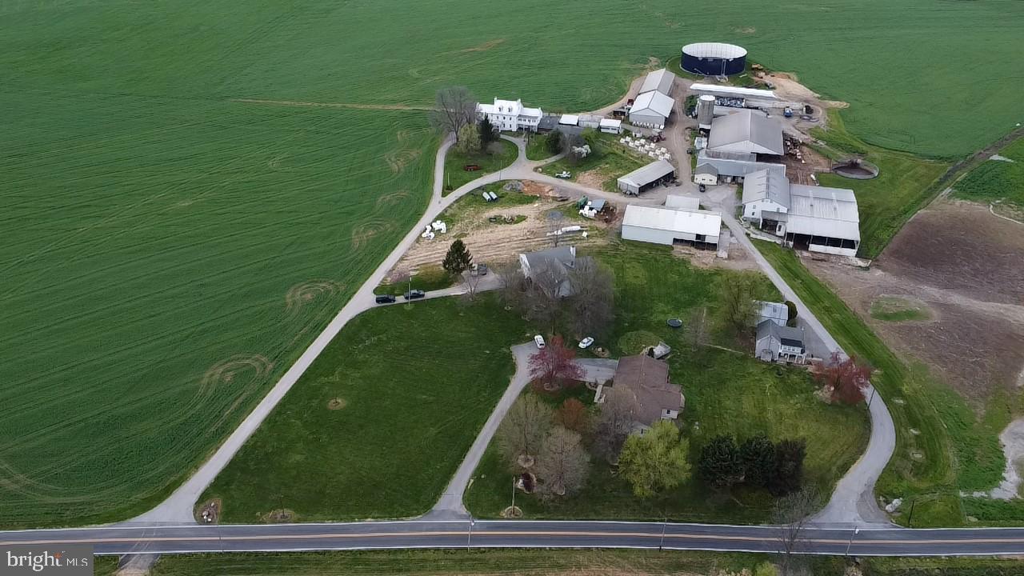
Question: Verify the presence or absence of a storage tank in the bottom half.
No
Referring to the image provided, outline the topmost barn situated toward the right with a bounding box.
[639,69,676,97]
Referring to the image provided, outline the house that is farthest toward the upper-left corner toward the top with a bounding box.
[478,97,543,134]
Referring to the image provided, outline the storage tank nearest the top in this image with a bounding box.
[679,42,750,77]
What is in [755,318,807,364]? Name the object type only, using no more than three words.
house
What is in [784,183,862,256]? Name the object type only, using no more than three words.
building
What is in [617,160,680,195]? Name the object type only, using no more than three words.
shed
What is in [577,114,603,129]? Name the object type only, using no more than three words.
shed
